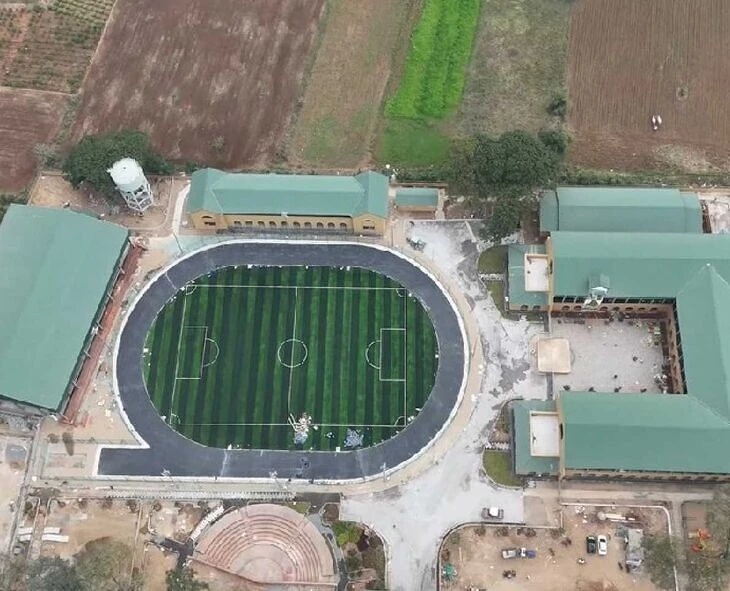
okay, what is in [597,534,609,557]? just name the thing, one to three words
vehicle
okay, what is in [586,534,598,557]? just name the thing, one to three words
vehicle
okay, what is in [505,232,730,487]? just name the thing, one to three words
building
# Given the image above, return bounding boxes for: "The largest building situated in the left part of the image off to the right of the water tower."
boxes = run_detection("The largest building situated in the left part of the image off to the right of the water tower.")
[185,160,391,234]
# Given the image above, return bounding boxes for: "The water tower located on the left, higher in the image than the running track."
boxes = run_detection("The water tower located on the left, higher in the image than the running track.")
[107,158,154,215]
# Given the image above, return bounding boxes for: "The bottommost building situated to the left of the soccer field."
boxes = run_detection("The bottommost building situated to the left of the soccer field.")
[0,207,134,425]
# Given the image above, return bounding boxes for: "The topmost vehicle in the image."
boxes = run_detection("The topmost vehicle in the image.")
[482,507,507,519]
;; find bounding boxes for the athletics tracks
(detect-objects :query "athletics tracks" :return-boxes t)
[92,239,471,482]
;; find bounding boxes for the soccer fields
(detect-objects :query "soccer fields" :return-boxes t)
[145,264,440,451]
